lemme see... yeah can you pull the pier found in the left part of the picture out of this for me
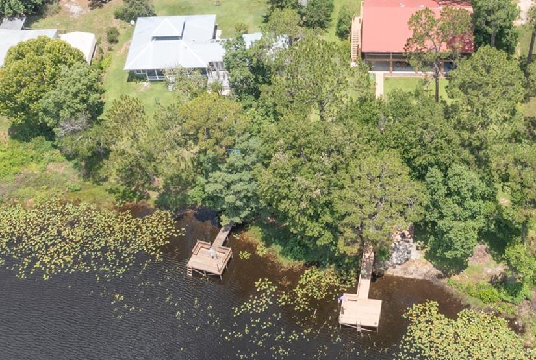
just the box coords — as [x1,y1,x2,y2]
[186,221,236,279]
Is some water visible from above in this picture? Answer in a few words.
Yes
